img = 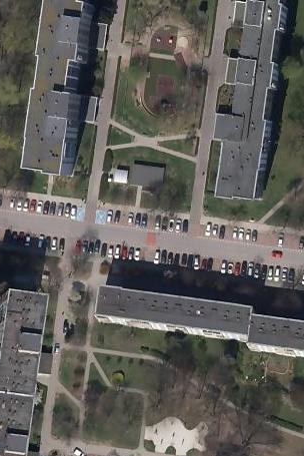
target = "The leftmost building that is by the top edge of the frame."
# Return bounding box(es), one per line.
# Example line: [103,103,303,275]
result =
[14,0,96,180]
